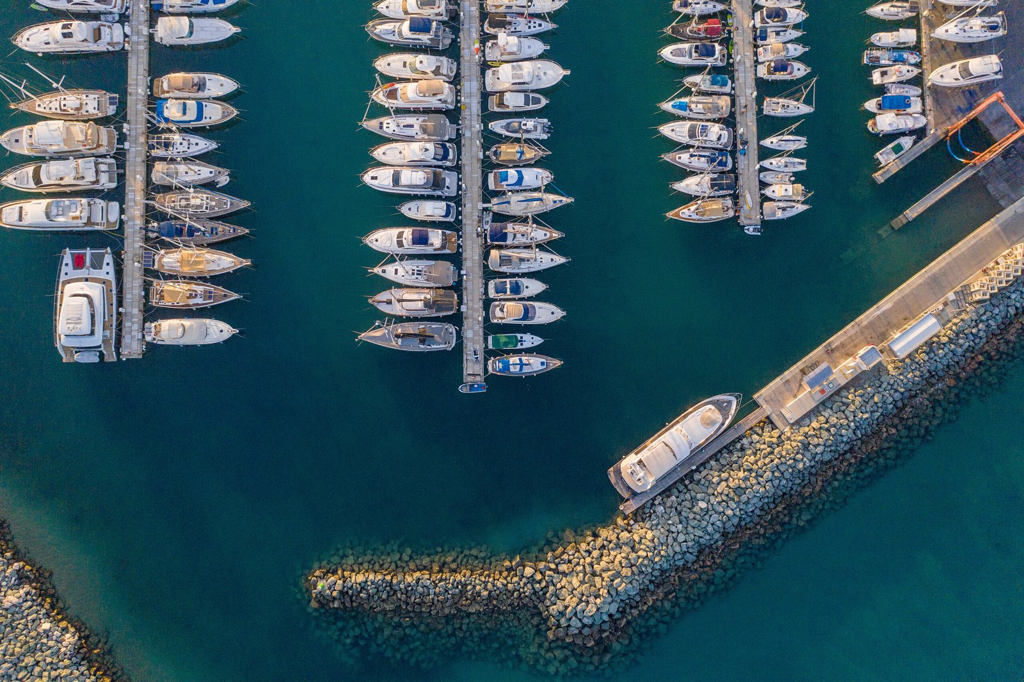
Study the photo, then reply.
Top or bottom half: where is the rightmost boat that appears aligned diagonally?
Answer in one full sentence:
Seen from above, the rightmost boat that appears aligned diagonally lies in the top half of the view.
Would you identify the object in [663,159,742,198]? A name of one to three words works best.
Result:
boat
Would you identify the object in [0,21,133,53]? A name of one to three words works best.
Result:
boat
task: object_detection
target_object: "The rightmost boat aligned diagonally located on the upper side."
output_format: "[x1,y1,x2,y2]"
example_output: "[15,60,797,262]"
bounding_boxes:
[869,131,919,167]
